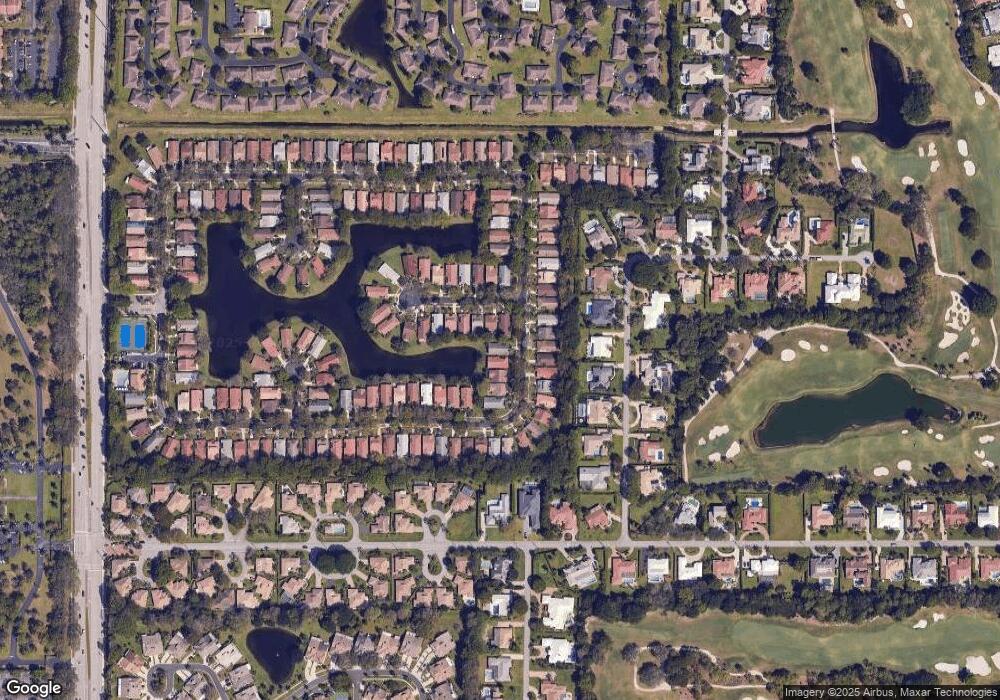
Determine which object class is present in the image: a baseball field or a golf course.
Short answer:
golf course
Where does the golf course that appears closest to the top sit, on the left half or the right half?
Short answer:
right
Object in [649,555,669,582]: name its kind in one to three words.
house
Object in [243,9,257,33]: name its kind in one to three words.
building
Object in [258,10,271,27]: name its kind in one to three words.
swimming pool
